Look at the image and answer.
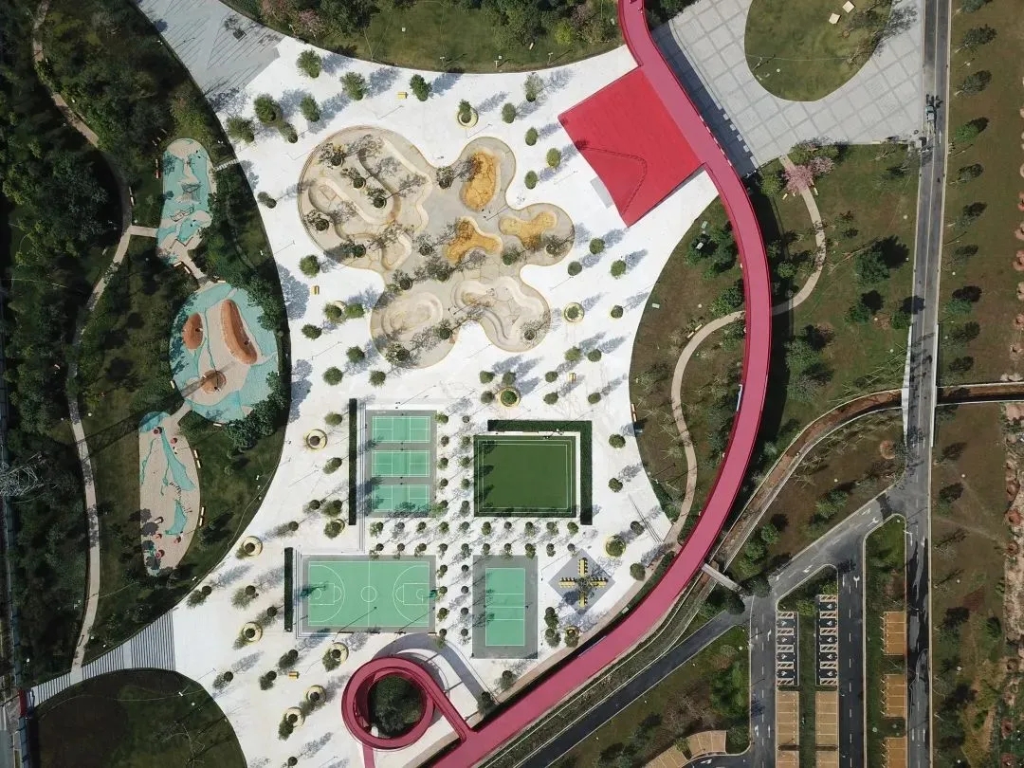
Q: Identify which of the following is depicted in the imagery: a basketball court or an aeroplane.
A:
basketball court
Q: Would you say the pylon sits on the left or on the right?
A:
left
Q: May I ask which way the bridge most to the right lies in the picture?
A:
from top to bottom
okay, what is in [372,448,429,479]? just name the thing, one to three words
sports court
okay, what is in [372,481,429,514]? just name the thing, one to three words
sports court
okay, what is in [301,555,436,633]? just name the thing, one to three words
basketball court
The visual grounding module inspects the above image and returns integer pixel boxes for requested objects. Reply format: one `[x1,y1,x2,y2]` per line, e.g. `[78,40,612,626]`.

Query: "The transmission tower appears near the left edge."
[0,455,48,492]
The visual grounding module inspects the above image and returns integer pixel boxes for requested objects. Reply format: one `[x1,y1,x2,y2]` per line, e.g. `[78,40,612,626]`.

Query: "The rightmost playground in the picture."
[299,126,574,367]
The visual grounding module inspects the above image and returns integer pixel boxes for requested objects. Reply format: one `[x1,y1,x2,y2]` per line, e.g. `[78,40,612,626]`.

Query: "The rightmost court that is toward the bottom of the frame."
[473,555,538,659]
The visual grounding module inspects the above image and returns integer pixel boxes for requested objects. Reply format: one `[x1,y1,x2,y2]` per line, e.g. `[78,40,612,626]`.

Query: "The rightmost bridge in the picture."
[904,324,940,447]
